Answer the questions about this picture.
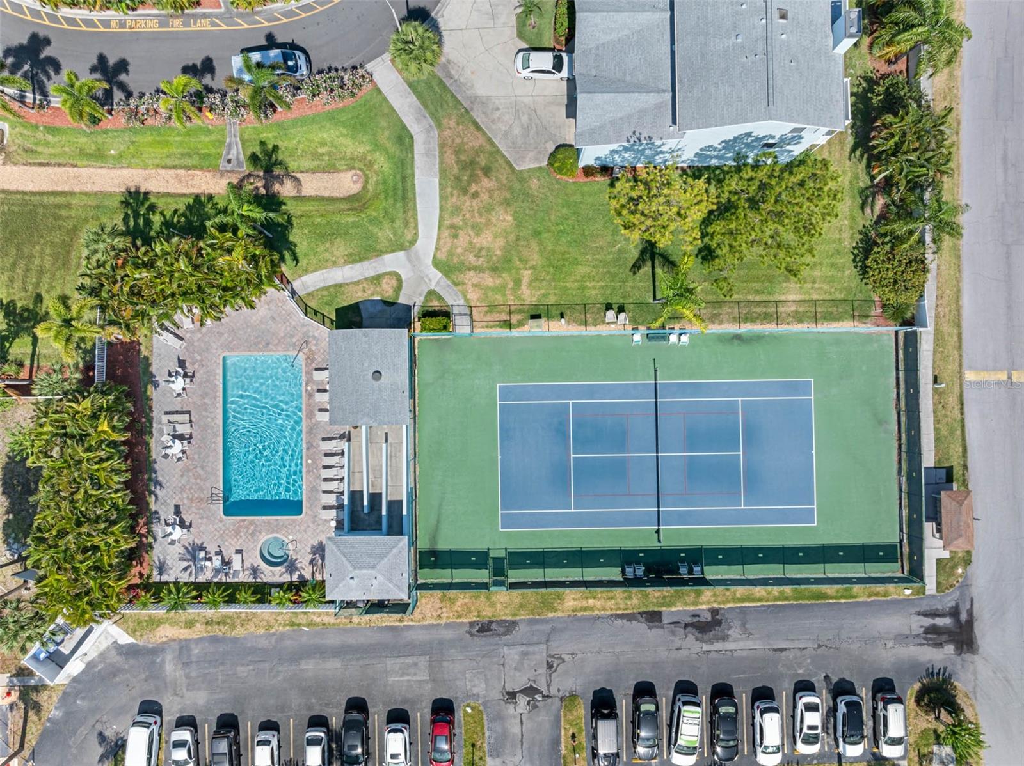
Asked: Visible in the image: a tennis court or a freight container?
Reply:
tennis court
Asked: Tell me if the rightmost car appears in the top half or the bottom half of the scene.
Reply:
bottom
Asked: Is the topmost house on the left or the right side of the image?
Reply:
right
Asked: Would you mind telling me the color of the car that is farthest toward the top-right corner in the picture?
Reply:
white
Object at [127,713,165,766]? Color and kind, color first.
white van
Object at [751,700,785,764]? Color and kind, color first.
white car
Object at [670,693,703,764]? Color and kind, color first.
white car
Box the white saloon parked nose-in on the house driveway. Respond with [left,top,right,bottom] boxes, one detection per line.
[514,46,572,81]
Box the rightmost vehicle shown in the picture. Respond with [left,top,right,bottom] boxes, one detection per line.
[873,692,911,760]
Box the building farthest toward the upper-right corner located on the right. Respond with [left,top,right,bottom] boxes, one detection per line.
[571,0,862,167]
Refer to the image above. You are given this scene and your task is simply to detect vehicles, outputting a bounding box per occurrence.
[170,726,200,766]
[710,697,743,761]
[632,696,663,762]
[127,713,165,766]
[591,705,622,766]
[304,726,331,766]
[338,711,371,766]
[209,728,242,766]
[670,693,703,764]
[873,692,911,760]
[514,46,572,81]
[426,713,457,766]
[384,723,412,766]
[791,692,825,755]
[751,700,785,764]
[254,730,282,766]
[833,695,868,758]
